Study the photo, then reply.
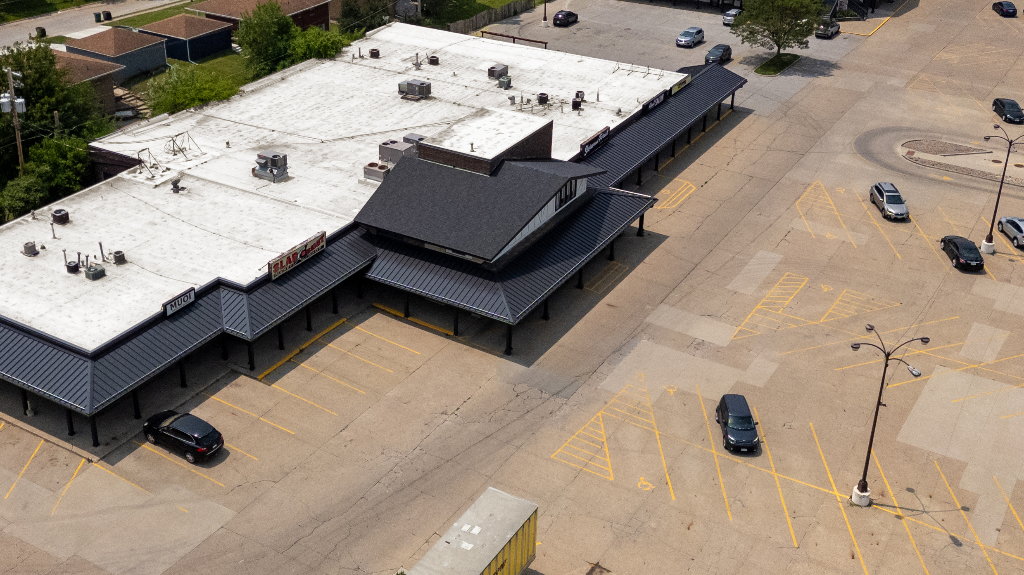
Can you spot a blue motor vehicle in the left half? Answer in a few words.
No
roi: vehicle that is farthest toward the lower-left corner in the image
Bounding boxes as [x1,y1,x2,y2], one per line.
[139,409,225,462]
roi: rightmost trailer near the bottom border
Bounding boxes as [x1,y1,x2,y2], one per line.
[404,487,539,575]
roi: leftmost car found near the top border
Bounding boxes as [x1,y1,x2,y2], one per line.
[552,9,581,27]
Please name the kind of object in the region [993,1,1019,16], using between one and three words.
car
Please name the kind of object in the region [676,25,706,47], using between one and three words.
car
